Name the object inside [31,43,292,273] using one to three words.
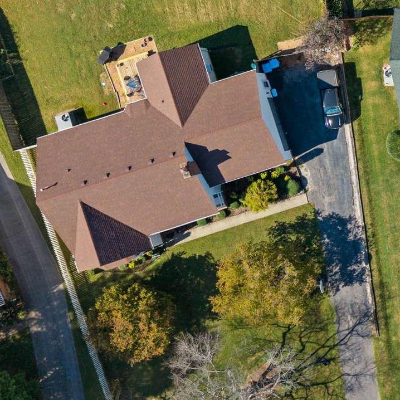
house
